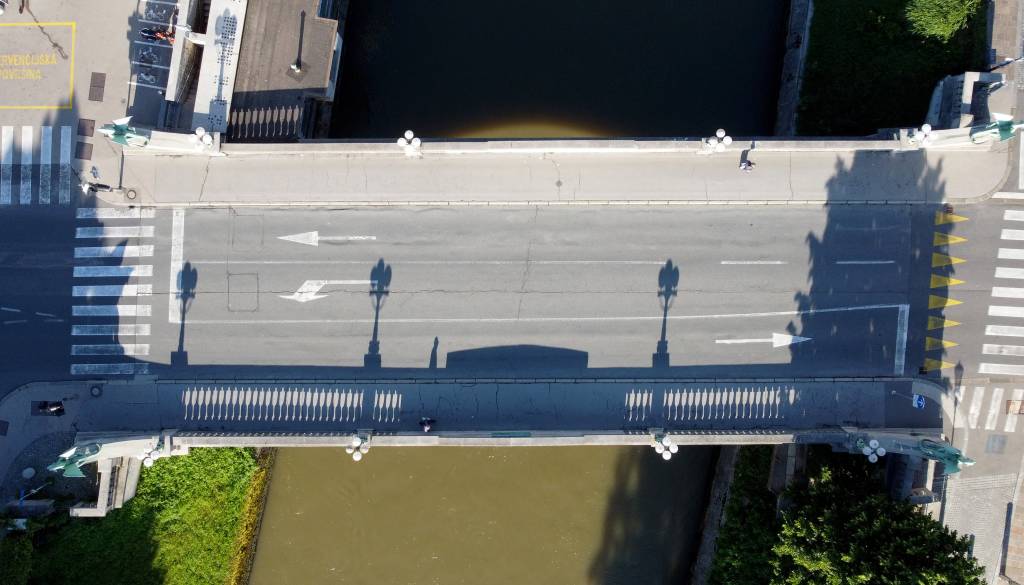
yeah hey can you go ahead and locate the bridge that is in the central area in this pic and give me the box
[122,139,1011,441]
